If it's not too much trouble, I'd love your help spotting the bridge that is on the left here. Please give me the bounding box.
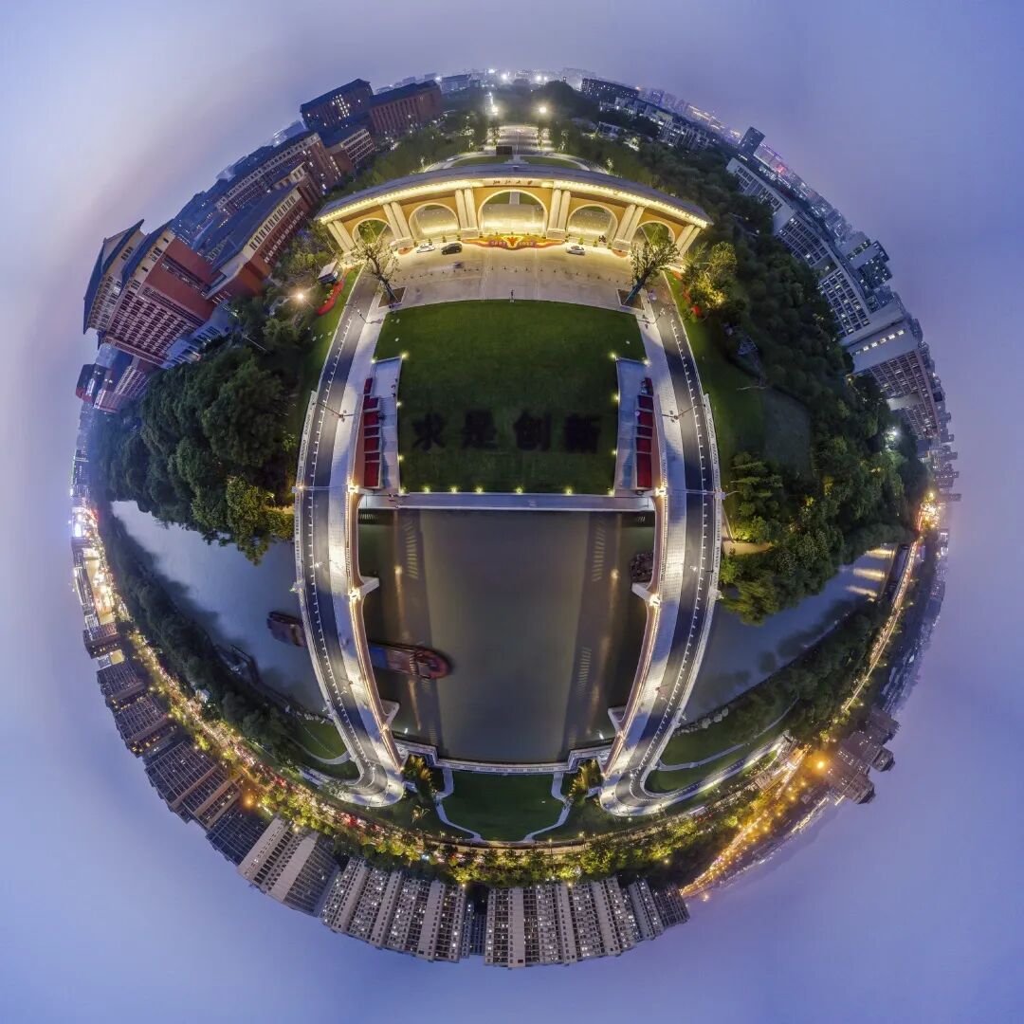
[207,206,428,814]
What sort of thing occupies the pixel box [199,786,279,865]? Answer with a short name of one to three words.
building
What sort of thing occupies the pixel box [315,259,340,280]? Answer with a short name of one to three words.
building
